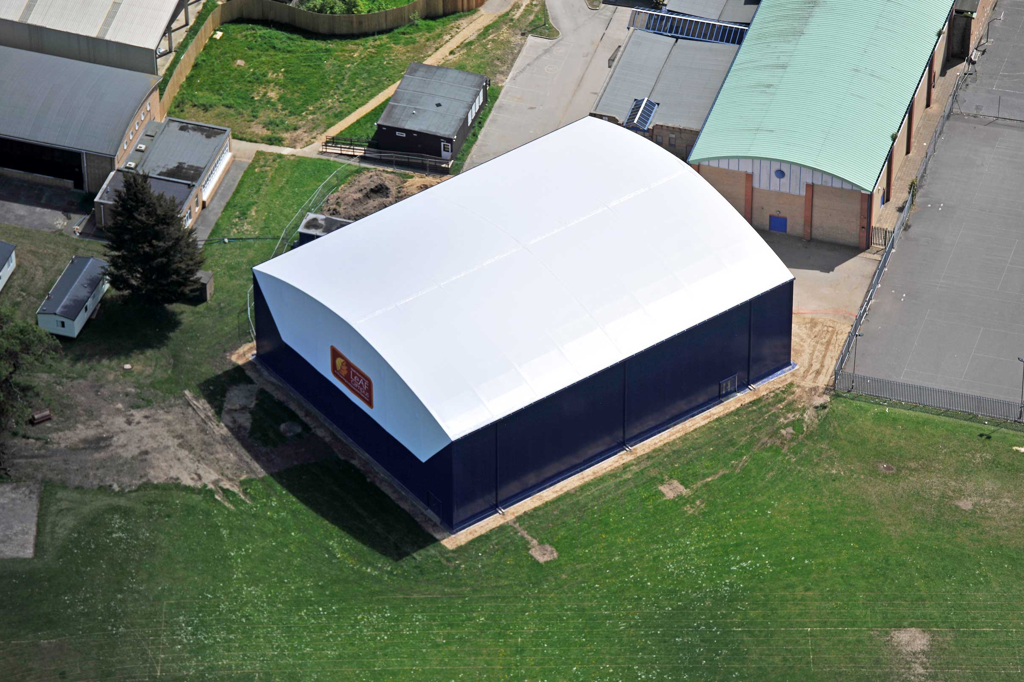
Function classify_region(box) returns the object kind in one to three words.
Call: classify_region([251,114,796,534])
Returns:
building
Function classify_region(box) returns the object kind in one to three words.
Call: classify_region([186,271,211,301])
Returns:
shed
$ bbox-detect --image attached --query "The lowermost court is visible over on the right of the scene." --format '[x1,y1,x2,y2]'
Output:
[835,109,1024,422]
